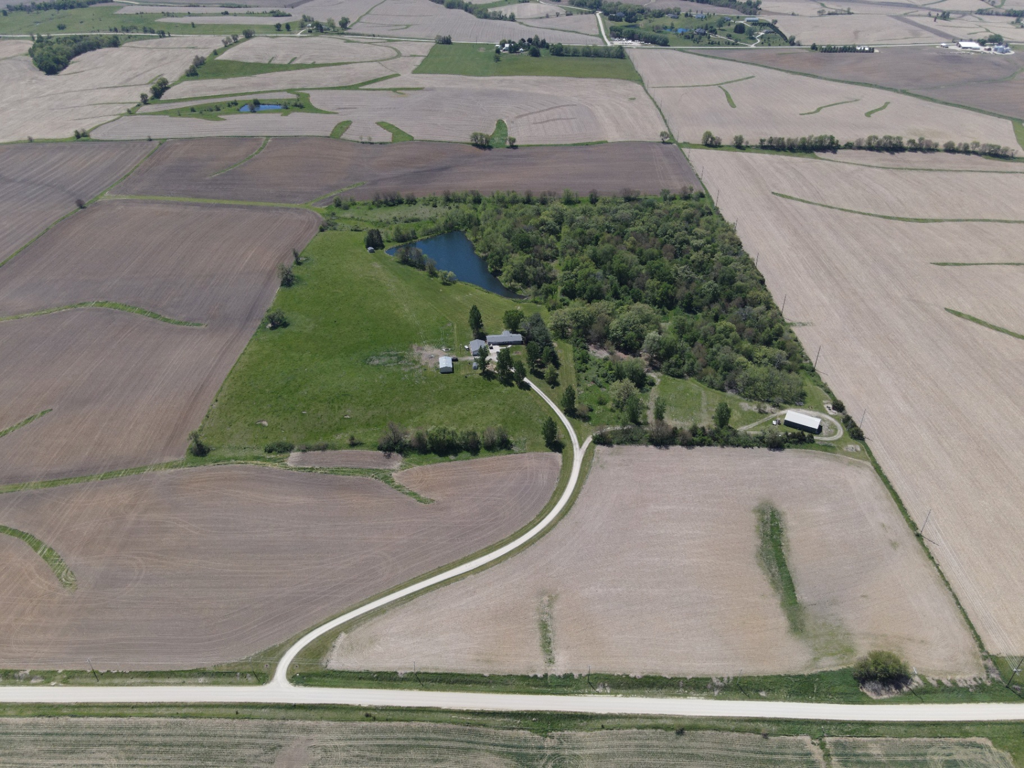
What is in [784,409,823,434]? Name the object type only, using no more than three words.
shed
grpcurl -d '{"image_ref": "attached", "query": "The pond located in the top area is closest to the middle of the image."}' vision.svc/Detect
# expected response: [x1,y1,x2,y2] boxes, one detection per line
[386,231,527,299]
